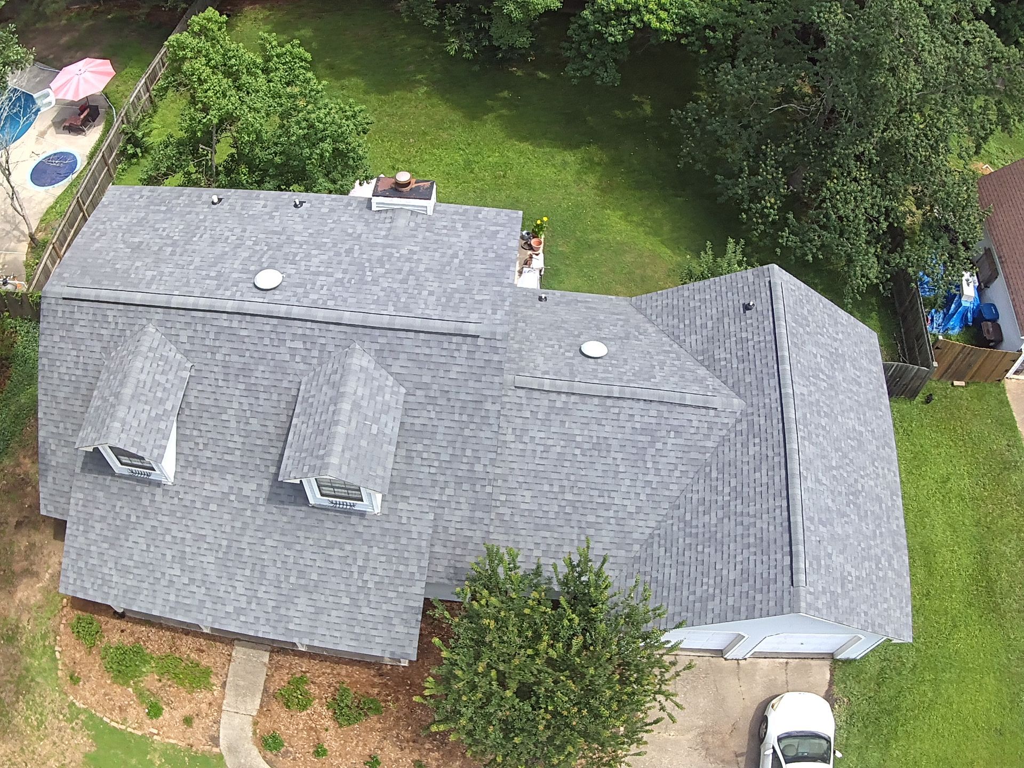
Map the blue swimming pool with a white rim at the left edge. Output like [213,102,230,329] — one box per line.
[0,83,55,150]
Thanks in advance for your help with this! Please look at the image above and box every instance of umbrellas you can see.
[50,58,116,101]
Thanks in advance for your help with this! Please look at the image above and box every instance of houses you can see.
[40,173,912,667]
[969,159,1024,380]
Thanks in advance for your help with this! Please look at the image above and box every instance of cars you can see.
[757,691,851,768]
